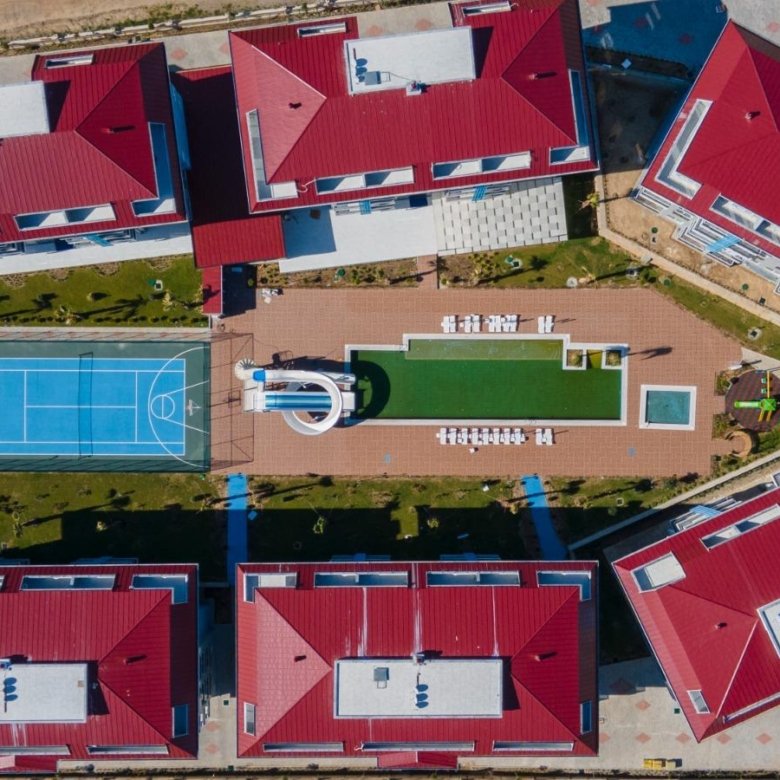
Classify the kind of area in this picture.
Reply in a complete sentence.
This looks like a residential area.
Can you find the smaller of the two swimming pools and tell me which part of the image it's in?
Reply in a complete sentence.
The smaller of the two swimming pools sits in the right section of the image.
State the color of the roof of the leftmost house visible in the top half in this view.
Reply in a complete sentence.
The roof over the leftmost house visible in the top half appears red.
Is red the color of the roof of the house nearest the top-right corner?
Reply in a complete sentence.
Yes, the roof of the house nearest the top-right corner is red.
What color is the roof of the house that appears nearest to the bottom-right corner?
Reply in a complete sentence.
The roof of the house that appears nearest to the bottom-right corner is red.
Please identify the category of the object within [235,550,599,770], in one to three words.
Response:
house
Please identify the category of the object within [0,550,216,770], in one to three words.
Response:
house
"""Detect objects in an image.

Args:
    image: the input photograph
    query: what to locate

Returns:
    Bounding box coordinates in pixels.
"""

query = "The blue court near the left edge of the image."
[0,342,210,471]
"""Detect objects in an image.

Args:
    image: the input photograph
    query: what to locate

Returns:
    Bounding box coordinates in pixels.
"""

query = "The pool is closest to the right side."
[640,385,696,430]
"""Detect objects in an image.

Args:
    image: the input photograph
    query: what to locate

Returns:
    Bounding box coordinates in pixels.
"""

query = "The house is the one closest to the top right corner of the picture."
[631,18,780,301]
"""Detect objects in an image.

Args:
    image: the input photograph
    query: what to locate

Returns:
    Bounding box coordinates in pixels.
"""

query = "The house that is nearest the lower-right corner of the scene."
[610,462,780,745]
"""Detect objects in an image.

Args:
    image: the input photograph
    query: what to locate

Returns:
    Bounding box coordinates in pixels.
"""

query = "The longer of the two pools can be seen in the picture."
[345,334,628,426]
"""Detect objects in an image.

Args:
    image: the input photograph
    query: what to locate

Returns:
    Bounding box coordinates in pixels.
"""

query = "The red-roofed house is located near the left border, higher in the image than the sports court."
[0,37,189,256]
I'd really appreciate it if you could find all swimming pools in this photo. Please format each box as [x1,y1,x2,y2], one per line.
[345,334,628,426]
[640,385,696,430]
